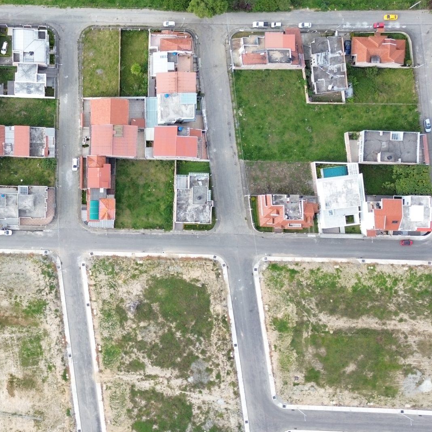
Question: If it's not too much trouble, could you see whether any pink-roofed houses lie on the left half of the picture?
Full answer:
Yes, looking on the left half of the picture, one can make out a pink-roofed house.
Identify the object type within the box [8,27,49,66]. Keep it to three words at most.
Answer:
house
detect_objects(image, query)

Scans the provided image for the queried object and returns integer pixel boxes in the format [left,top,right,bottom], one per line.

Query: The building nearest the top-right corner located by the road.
[350,27,406,66]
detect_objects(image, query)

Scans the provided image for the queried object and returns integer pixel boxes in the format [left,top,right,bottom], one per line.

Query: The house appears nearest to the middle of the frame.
[175,173,213,224]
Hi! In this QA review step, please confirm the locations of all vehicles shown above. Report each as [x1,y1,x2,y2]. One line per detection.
[0,40,8,55]
[384,14,398,20]
[252,20,268,28]
[272,21,282,28]
[424,119,431,132]
[372,22,385,28]
[164,20,175,27]
[344,40,351,56]
[401,239,413,246]
[72,157,78,171]
[299,21,312,28]
[0,229,12,236]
